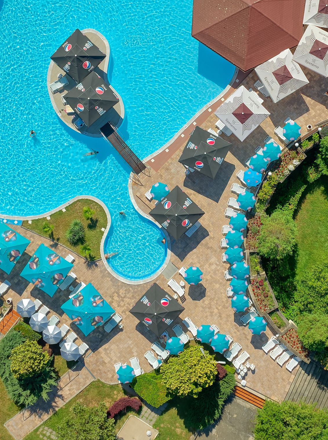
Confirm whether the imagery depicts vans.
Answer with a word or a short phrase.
No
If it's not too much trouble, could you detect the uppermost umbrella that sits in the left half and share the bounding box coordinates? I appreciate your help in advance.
[50,28,106,83]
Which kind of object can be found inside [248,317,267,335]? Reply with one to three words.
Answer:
umbrella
